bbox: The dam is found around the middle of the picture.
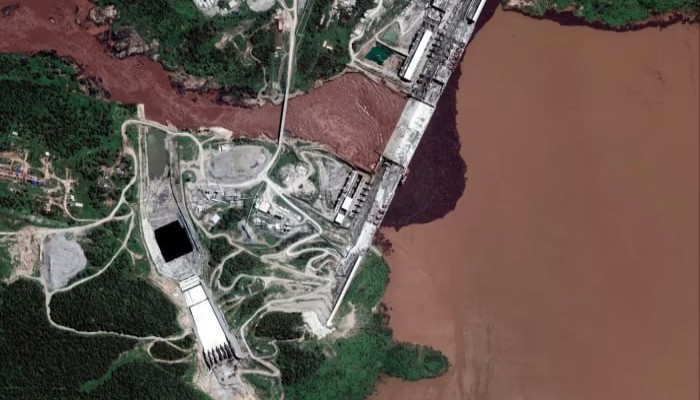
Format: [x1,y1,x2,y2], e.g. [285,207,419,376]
[327,0,486,323]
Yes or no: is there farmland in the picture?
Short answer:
No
